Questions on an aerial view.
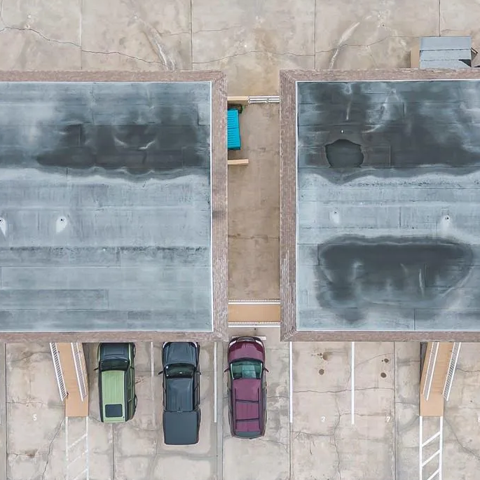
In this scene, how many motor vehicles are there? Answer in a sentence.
The count of motor vehicles comes to 3.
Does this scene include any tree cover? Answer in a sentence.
No, no tree cover is visible.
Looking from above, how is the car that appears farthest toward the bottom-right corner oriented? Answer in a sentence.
I'd say the car that appears farthest toward the bottom-right corner is aligned up and down in the picture.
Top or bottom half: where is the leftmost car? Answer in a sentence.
Seen from above, the leftmost car lies in the bottom half of the view.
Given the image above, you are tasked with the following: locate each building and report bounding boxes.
[0,69,228,344]
[281,67,480,343]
